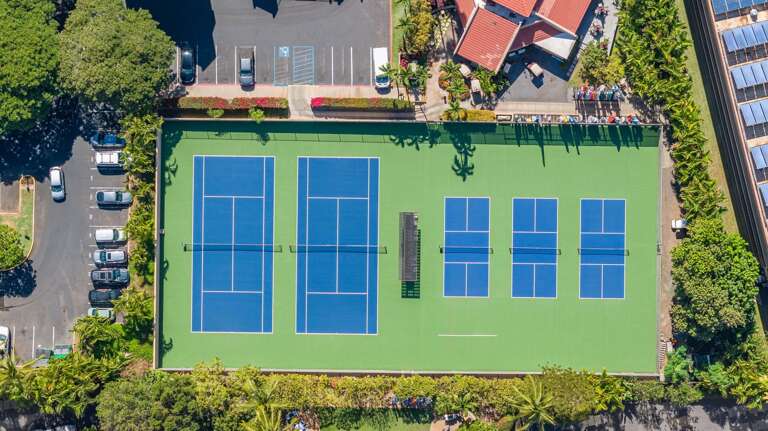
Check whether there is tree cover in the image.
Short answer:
Yes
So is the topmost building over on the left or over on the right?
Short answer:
right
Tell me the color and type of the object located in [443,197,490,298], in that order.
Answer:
blue sports court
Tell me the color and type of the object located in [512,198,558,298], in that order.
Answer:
blue sports court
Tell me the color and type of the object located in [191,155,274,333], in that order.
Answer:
blue tennis court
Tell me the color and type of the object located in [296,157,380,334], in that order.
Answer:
blue tennis court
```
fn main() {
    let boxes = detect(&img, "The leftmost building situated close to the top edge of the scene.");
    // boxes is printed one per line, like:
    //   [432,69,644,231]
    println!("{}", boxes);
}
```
[454,0,595,76]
